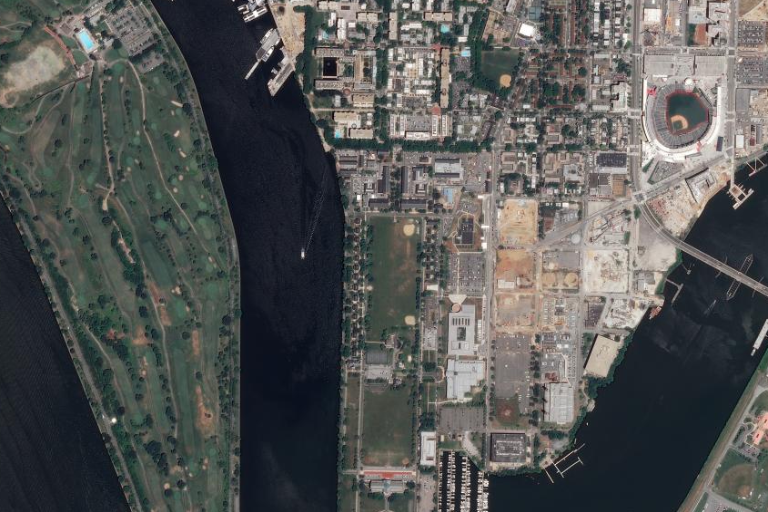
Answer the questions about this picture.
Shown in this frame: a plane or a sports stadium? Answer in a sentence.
There is a sports stadium in the scene.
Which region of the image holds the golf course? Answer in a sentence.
Look in the left portion of the view to spot the golf course.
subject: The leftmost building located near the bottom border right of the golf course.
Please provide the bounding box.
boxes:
[371,479,406,495]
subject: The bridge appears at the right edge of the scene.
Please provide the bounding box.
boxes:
[642,202,768,295]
